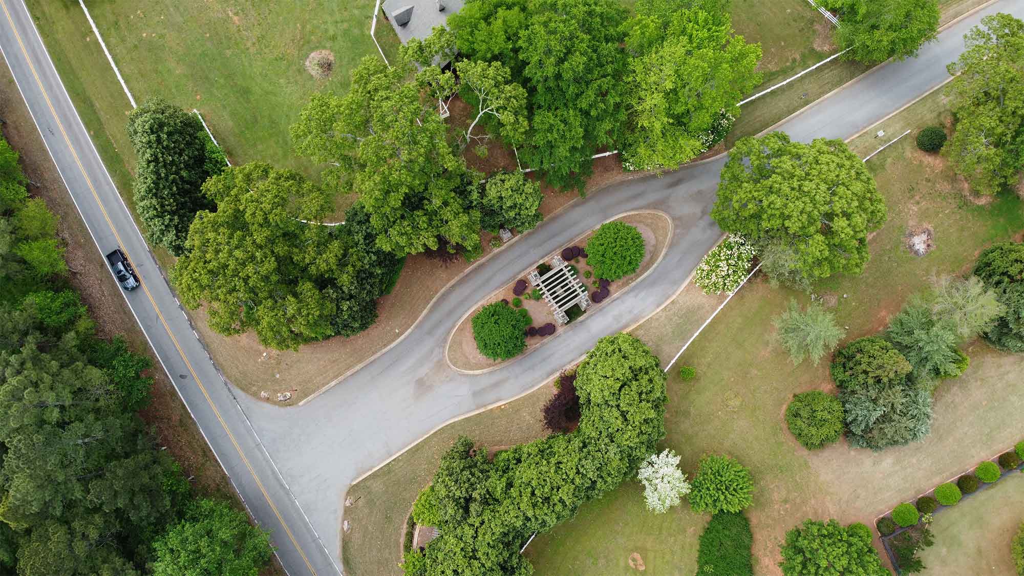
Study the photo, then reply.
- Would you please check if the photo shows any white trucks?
No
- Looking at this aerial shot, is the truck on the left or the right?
left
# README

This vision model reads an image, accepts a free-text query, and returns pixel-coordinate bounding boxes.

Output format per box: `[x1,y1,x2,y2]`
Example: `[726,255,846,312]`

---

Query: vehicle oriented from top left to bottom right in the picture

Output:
[108,249,140,289]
